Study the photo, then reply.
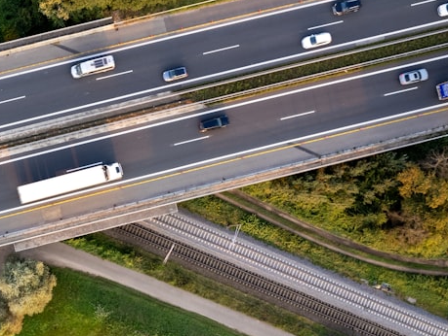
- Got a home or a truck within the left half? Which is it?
truck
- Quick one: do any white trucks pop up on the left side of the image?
Yes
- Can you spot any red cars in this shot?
No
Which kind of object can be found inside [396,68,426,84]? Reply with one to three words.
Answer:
car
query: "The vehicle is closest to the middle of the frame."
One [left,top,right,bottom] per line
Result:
[198,113,228,130]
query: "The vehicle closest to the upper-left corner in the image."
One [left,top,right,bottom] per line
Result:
[72,54,116,77]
